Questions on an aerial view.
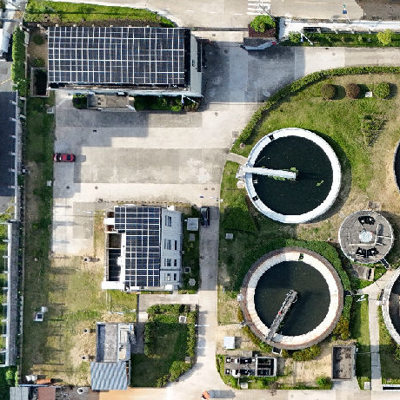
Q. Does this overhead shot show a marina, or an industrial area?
industrial area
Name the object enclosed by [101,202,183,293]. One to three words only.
building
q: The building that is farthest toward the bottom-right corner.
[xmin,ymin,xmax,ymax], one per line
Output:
[226,350,278,386]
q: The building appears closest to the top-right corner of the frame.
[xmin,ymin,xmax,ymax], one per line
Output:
[241,23,283,53]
